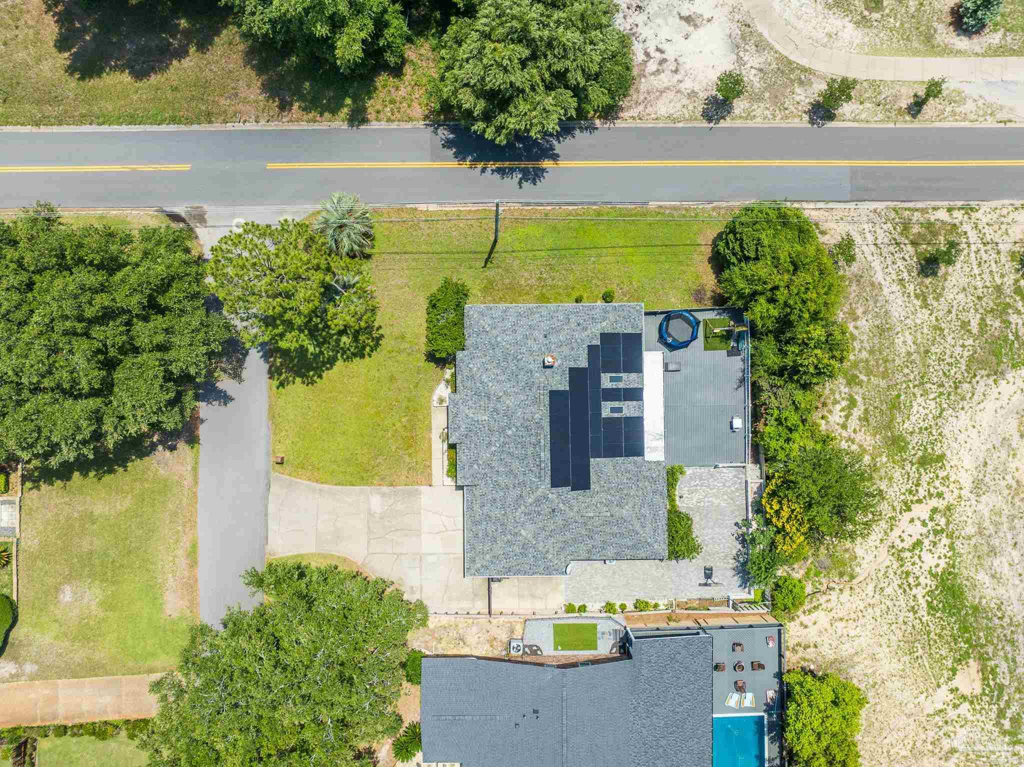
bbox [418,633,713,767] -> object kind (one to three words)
house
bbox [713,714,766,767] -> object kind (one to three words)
swimming pool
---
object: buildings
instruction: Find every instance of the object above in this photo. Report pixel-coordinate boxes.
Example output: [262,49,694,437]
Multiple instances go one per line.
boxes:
[449,303,668,577]
[418,633,713,767]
